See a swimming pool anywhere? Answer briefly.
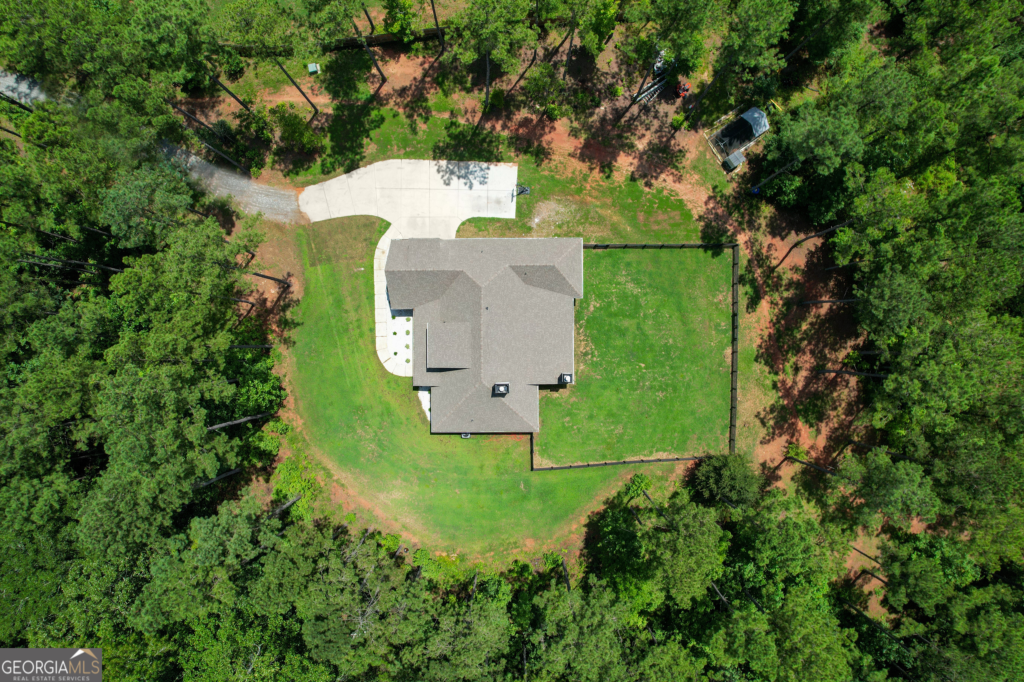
No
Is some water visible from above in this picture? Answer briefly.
No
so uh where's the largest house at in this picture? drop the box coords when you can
[385,236,584,433]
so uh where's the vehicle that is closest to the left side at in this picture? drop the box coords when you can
[675,80,694,99]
